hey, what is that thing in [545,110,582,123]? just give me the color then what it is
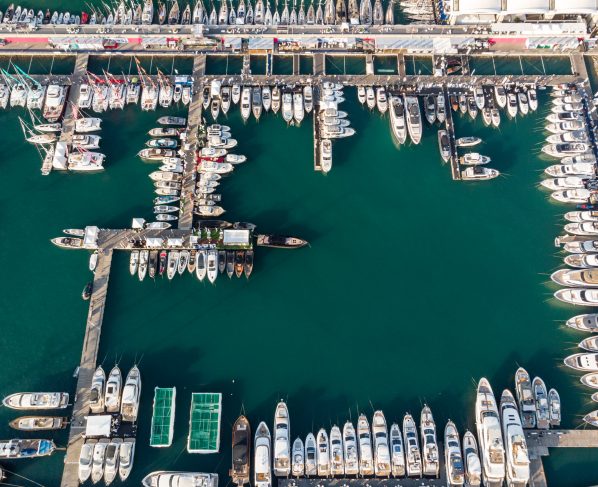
white boat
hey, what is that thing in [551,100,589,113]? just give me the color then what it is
white boat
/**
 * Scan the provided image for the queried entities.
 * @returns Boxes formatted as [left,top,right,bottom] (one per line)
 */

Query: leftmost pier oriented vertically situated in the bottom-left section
[58,237,113,487]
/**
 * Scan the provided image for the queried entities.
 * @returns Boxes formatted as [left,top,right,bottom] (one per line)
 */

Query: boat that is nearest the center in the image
[257,234,311,248]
